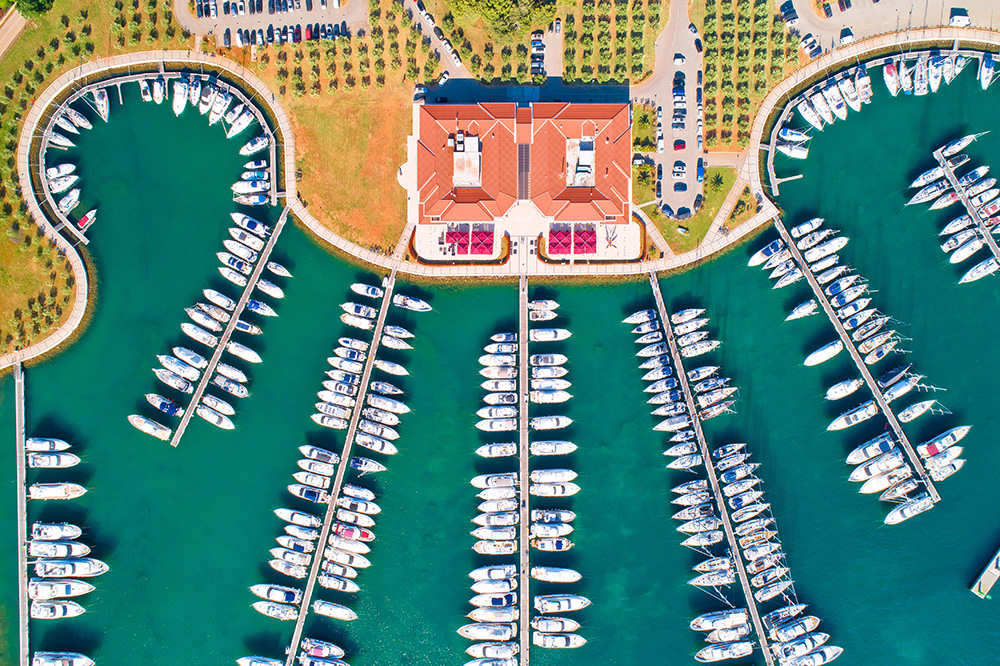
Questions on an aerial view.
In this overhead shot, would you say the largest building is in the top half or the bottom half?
top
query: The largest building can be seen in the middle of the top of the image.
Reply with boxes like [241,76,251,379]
[417,102,631,227]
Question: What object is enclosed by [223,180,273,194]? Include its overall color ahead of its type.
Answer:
white boat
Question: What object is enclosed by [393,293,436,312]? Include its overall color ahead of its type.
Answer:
white boat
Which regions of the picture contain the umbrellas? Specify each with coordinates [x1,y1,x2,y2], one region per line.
[573,242,585,254]
[585,231,597,242]
[482,242,494,254]
[458,242,470,254]
[573,231,585,242]
[458,231,470,242]
[446,231,458,243]
[561,242,571,254]
[549,242,561,254]
[549,231,561,242]
[585,242,597,254]
[561,231,571,242]
[471,242,482,254]
[471,231,482,242]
